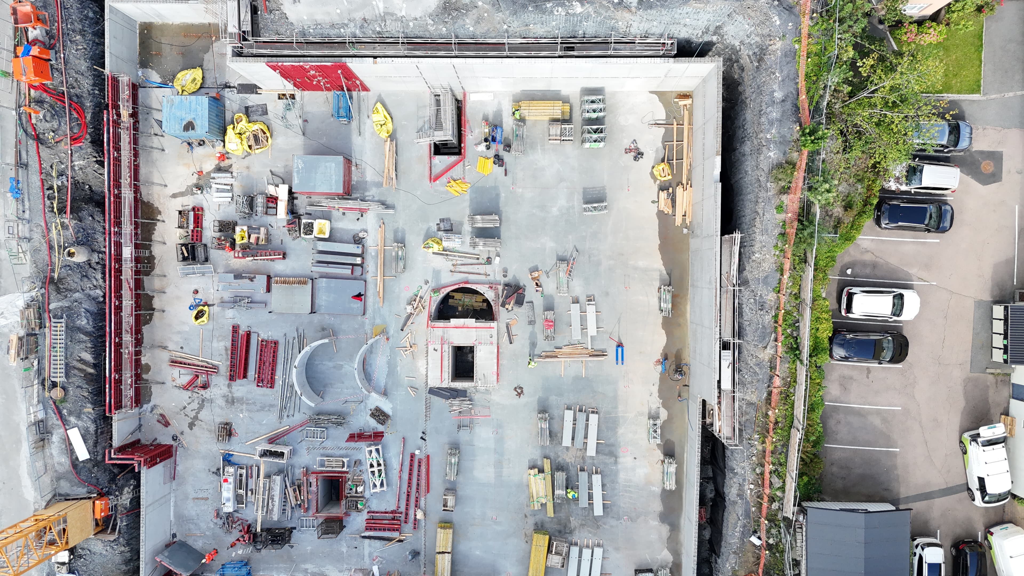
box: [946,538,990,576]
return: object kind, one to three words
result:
car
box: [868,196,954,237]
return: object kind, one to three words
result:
car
